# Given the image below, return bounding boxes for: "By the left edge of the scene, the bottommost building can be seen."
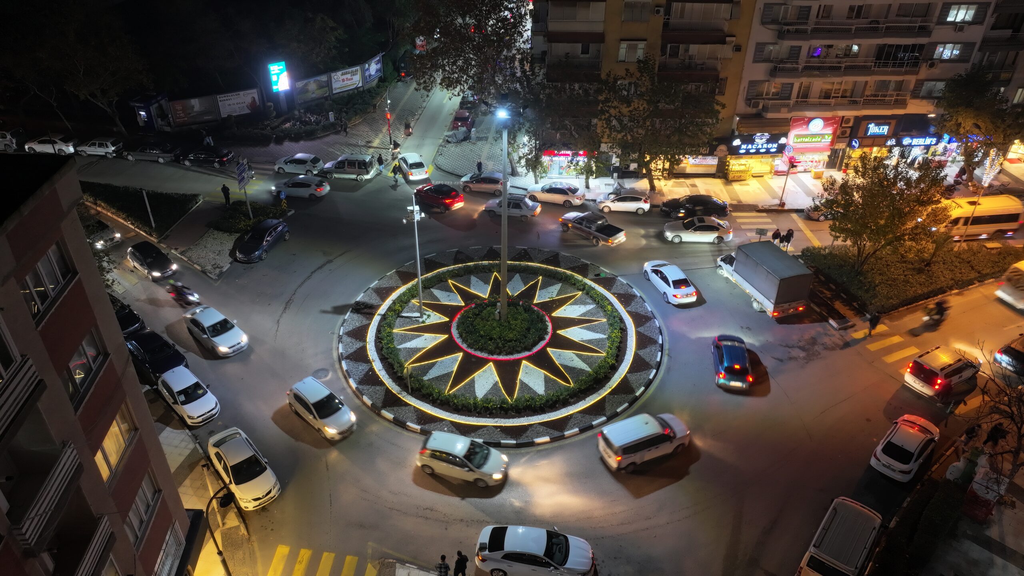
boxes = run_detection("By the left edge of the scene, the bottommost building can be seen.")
[0,157,213,576]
